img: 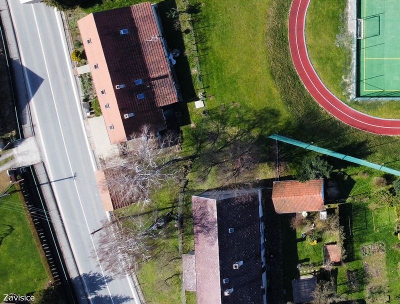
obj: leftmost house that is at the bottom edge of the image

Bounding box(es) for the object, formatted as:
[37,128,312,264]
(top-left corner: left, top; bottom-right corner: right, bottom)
[182,187,268,304]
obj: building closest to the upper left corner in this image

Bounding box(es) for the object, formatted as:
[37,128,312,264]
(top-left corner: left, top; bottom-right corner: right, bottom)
[80,1,184,144]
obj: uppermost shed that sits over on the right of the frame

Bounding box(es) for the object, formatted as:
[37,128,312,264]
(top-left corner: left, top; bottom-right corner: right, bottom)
[272,177,329,213]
